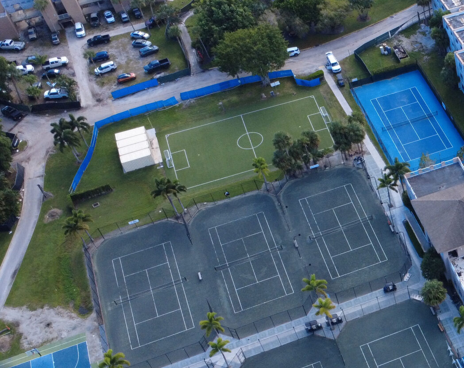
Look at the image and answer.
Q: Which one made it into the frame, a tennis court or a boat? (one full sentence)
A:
The image shows a tennis court.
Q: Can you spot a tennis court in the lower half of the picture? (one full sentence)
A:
Yes, I can see a tennis court in the lower half of the picture.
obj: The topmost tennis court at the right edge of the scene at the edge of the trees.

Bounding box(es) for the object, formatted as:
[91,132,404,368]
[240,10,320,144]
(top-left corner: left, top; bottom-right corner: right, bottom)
[354,70,464,170]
